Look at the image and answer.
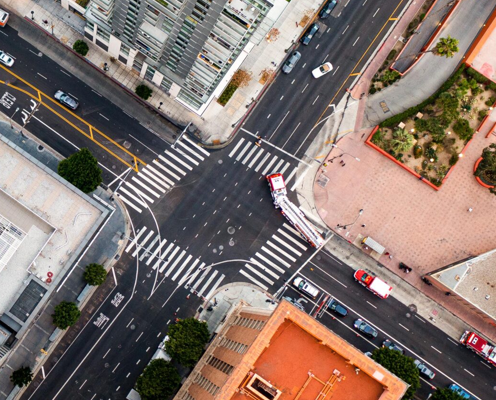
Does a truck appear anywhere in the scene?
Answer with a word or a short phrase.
Yes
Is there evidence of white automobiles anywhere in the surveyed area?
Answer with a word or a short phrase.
Yes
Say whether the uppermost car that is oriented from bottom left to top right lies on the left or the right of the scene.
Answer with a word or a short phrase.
right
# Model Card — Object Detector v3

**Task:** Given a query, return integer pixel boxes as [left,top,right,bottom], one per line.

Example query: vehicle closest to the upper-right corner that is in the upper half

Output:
[316,0,339,21]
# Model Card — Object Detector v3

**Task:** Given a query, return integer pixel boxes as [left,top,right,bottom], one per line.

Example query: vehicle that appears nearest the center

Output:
[264,166,290,199]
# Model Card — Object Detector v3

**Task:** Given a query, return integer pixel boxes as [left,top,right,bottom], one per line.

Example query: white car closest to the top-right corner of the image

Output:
[310,62,334,81]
